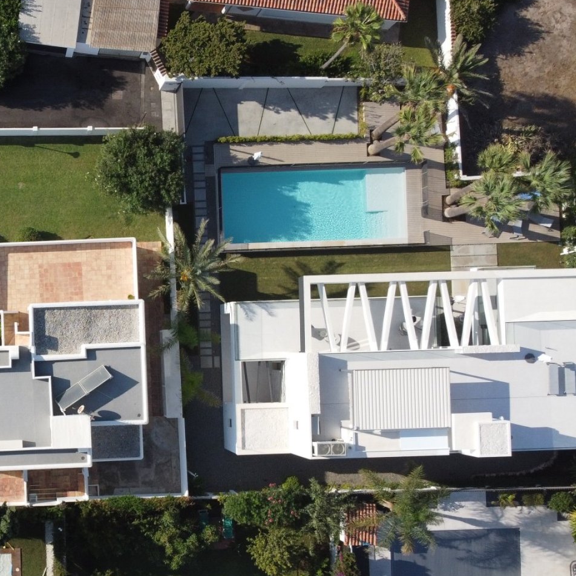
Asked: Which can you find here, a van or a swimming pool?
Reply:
swimming pool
